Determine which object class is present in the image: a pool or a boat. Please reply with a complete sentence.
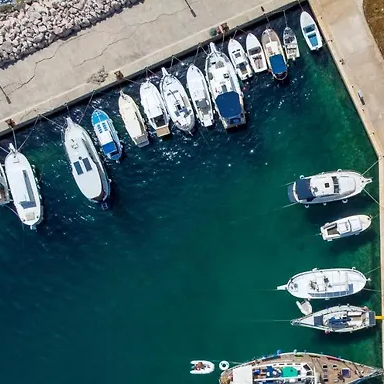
There is a boat in the scene.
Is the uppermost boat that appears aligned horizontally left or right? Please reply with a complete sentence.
The uppermost boat that appears aligned horizontally is on the right side of the image.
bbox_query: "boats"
[274,266,372,301]
[262,27,290,81]
[245,32,271,78]
[59,112,112,209]
[219,348,384,384]
[300,11,323,55]
[142,75,172,140]
[319,215,371,242]
[294,298,311,313]
[282,27,302,64]
[187,64,218,131]
[292,303,373,335]
[94,110,124,163]
[117,87,151,149]
[190,359,216,374]
[229,38,255,83]
[0,162,12,206]
[2,142,43,229]
[205,37,251,137]
[286,168,374,206]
